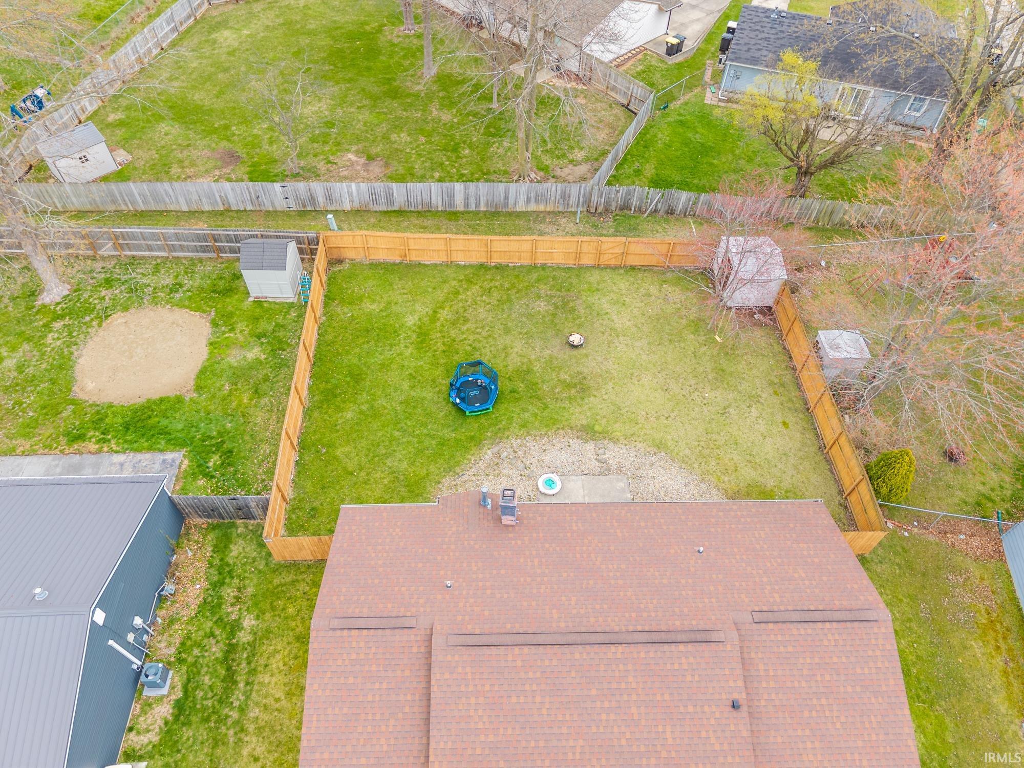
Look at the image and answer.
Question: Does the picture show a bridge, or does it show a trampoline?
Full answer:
This aerial view contains a trampoline.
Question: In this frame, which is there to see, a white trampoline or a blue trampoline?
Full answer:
This aerial view contains a blue trampoline.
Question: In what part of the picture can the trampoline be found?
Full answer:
Look in the center portion of the view to spot the trampoline.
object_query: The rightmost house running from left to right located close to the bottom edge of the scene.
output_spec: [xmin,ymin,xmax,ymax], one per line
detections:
[300,483,926,768]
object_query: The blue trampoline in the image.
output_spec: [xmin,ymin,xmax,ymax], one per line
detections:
[450,361,498,419]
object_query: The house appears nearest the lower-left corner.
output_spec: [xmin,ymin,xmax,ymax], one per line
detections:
[0,472,187,768]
